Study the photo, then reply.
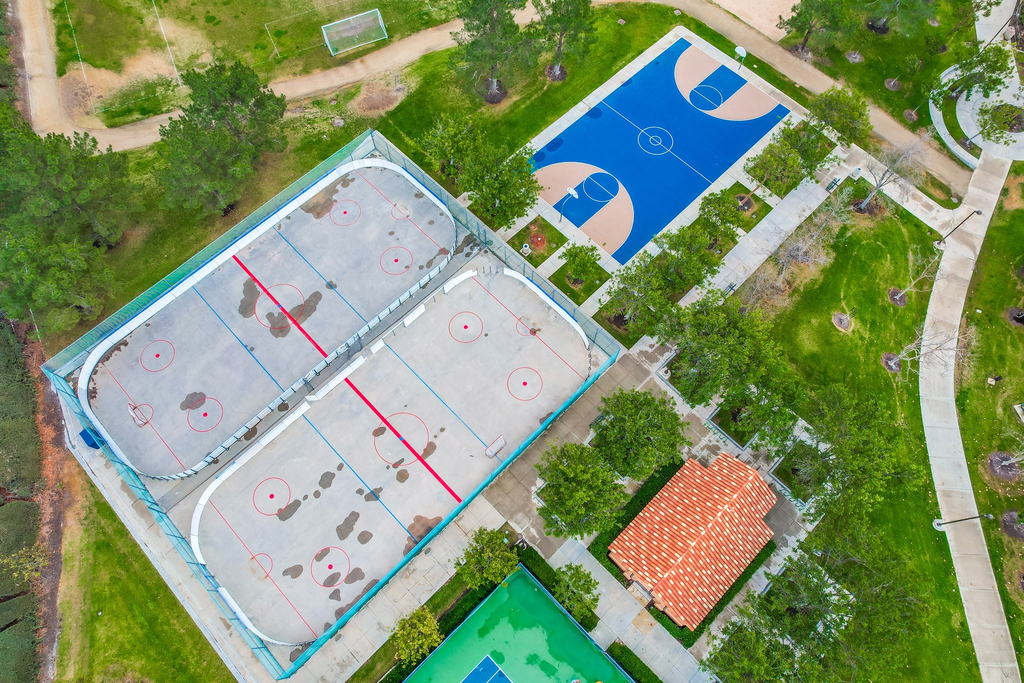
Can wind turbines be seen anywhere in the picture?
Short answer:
No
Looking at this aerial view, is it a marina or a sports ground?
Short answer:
sports ground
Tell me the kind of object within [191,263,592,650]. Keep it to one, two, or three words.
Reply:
sports court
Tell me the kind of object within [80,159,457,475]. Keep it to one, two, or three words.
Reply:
sports court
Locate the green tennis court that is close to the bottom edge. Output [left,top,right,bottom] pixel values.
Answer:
[408,564,631,683]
